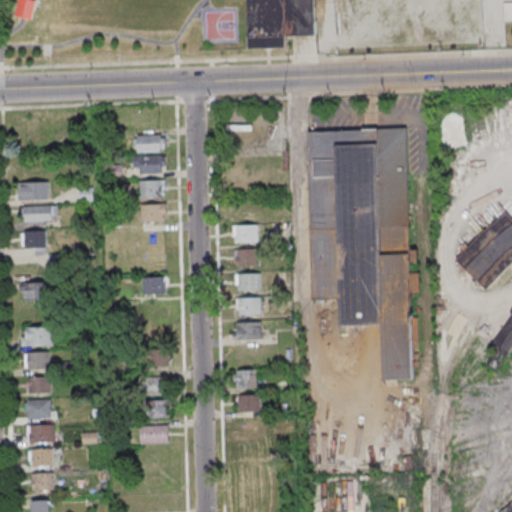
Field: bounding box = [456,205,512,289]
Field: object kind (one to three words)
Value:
shed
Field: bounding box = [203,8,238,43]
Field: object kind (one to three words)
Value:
basketball court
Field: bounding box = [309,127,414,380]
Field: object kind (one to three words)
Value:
building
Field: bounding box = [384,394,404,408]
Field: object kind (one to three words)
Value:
vehicle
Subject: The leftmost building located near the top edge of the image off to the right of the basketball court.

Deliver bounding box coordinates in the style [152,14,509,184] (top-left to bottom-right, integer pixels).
[247,0,314,49]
